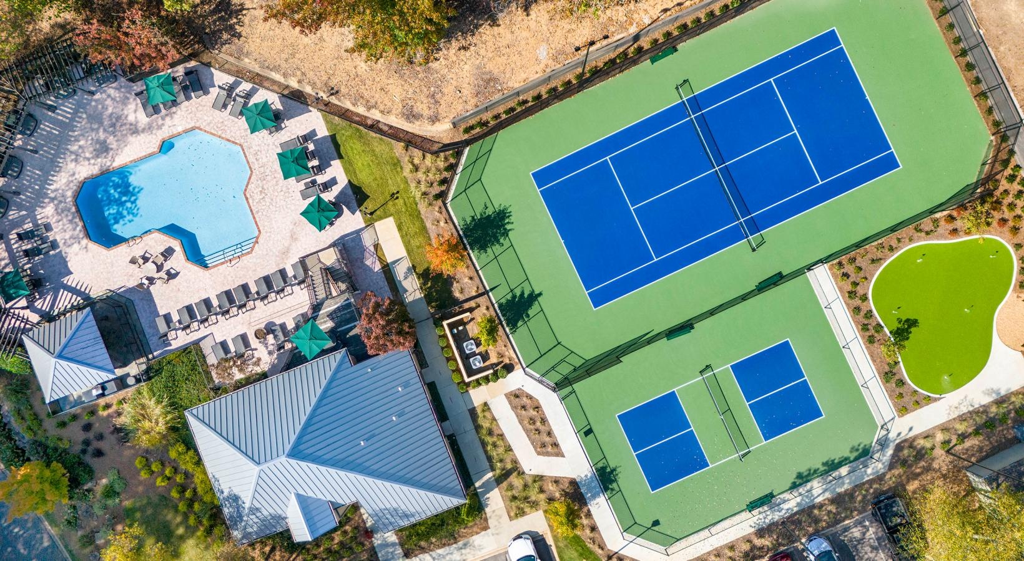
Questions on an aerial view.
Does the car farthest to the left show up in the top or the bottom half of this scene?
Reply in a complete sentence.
The bottom half of the photo is where the car farthest to the left is.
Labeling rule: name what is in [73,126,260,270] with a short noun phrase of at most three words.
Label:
swimming pool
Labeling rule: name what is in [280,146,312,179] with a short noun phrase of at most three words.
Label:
umbrella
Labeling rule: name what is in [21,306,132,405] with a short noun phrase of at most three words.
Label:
building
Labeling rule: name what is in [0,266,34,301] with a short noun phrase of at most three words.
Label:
umbrella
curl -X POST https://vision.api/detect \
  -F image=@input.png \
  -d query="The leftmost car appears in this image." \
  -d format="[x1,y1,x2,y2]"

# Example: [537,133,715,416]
[510,531,542,561]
